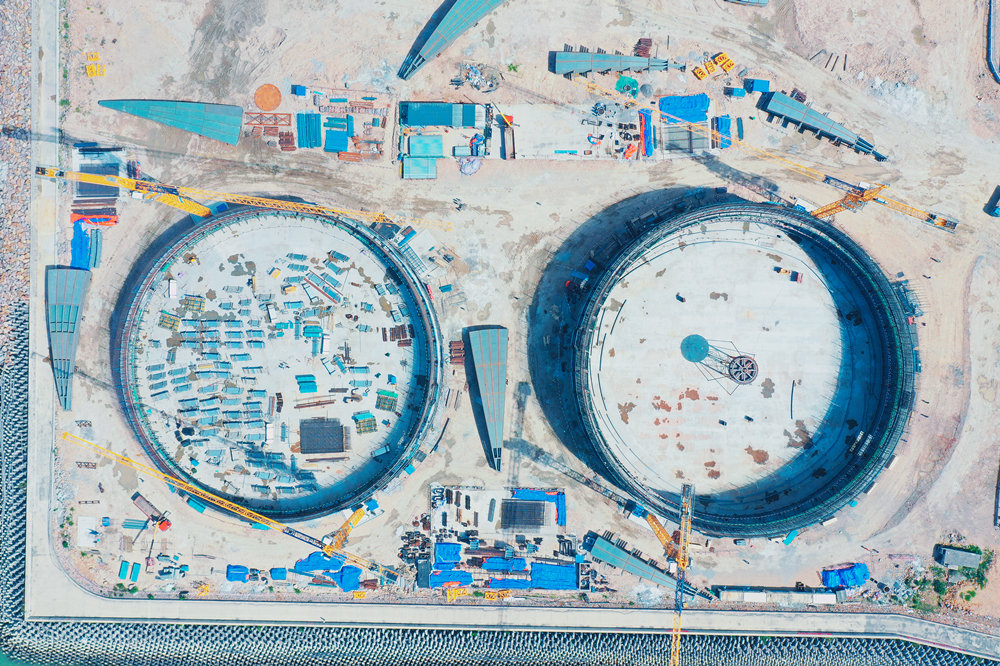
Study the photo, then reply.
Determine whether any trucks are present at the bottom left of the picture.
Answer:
Yes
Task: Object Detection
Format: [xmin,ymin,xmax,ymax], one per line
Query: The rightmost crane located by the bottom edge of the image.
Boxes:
[635,483,698,666]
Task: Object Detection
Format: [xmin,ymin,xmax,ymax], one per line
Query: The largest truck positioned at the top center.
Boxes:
[488,95,516,155]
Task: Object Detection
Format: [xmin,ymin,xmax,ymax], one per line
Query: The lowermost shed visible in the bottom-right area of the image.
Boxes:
[714,587,853,608]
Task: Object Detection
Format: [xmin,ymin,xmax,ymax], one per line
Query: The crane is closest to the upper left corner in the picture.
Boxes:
[36,162,454,229]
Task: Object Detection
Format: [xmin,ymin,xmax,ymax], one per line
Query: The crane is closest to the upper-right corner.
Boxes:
[573,70,961,228]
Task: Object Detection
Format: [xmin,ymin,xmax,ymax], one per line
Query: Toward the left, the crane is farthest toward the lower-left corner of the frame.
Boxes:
[58,432,399,586]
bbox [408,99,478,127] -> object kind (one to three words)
shed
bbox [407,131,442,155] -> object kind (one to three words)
shed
